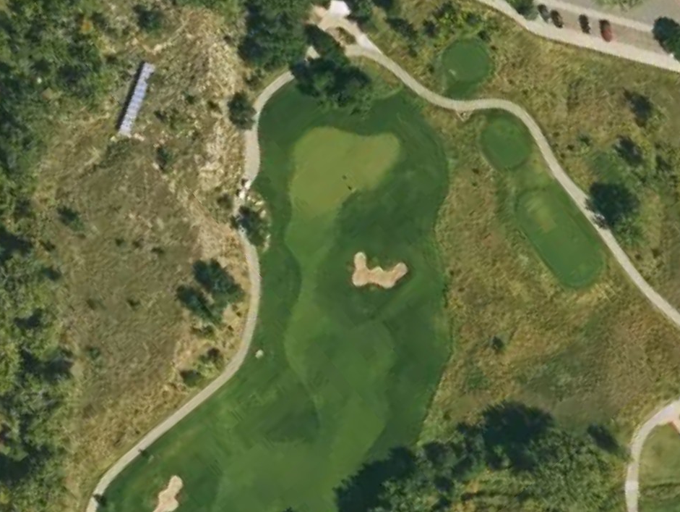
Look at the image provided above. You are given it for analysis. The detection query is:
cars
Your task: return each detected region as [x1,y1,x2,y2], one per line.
[579,14,591,33]
[551,9,564,28]
[539,3,551,23]
[601,20,612,41]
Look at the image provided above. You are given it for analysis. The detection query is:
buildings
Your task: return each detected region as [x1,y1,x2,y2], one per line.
[119,61,157,136]
[329,0,350,17]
